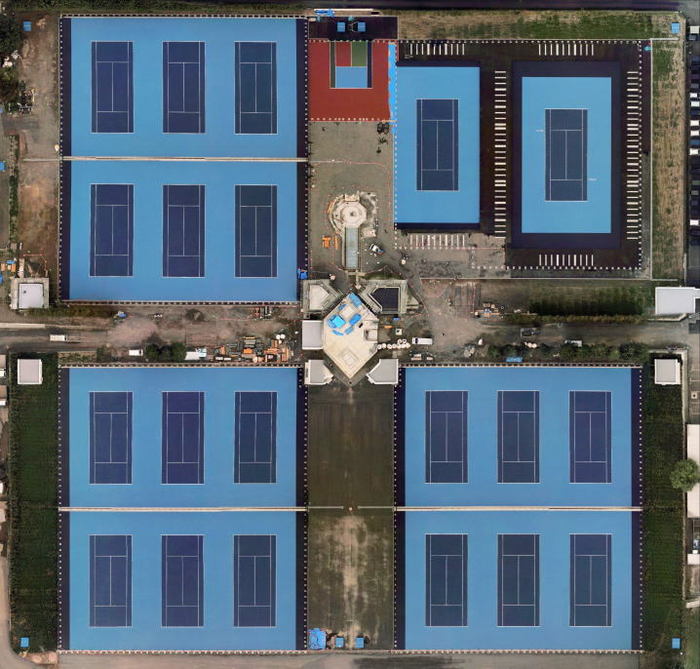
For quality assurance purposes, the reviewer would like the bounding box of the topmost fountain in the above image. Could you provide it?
[325,191,379,236]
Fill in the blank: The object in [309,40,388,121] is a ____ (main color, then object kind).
red sports court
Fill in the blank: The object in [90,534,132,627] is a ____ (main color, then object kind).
blue tennis court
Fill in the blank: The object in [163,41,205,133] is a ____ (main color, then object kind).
blue tennis court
